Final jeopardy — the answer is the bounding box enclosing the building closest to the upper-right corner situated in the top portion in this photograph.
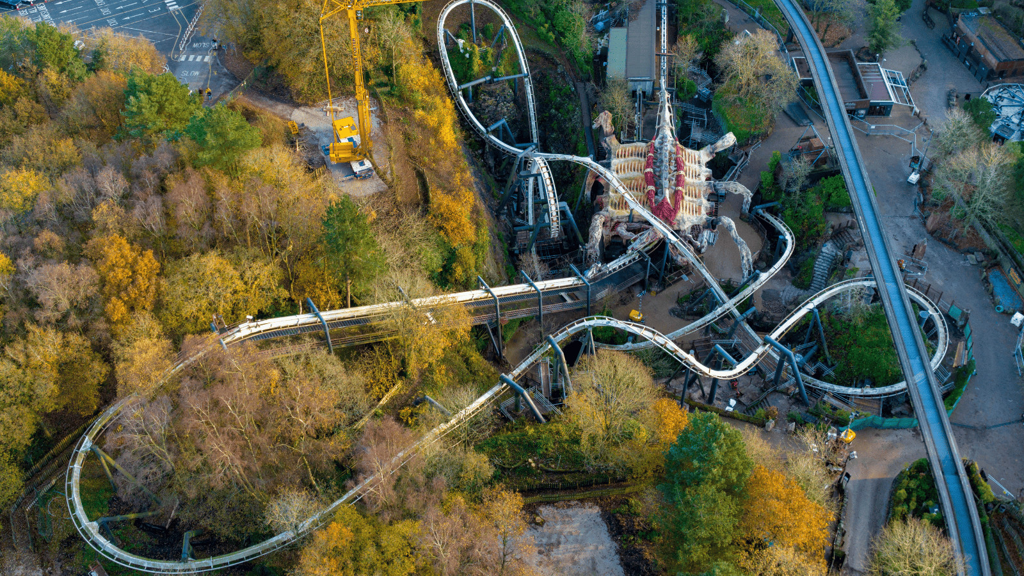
[954,11,1024,88]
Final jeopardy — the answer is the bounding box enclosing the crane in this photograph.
[300,0,440,201]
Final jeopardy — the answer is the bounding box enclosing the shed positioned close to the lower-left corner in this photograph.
[83,542,114,576]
